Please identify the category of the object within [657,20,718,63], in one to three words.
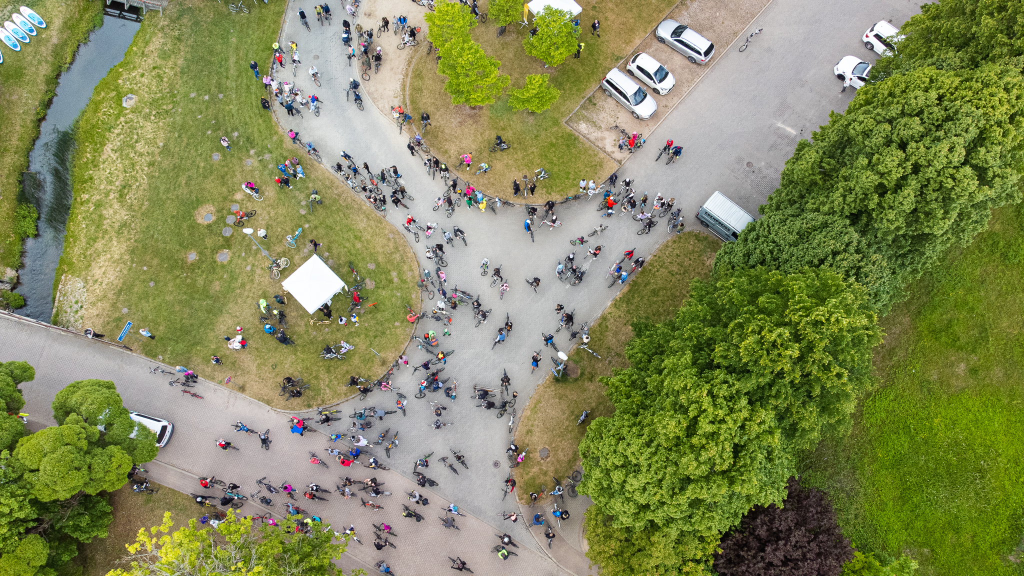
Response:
car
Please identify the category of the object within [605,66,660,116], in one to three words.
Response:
car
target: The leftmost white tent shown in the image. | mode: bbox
[280,254,354,326]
